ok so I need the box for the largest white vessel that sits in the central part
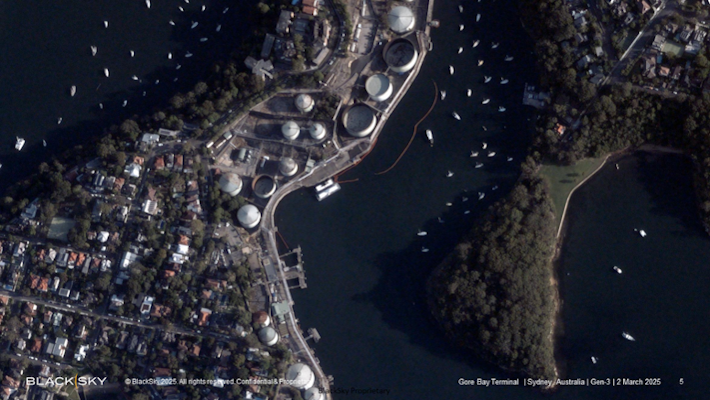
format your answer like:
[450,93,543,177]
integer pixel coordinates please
[318,185,340,201]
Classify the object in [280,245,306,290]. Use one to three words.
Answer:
pier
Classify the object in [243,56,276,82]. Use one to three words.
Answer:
building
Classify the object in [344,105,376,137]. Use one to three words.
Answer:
storage tank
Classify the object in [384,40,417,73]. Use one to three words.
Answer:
storage tank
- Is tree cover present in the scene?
Yes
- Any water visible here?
Yes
